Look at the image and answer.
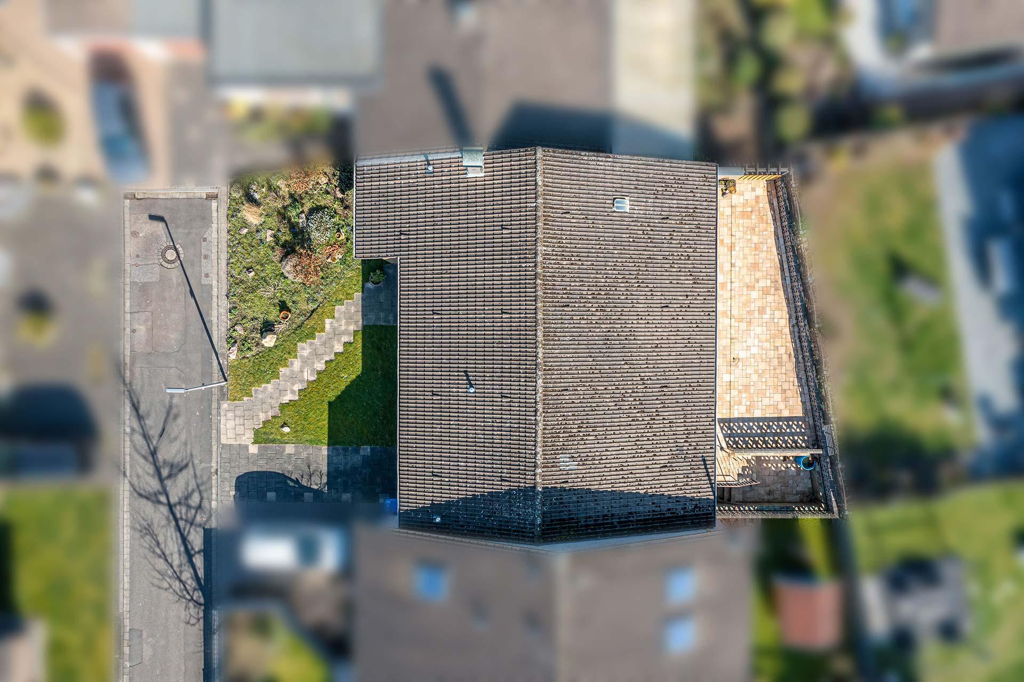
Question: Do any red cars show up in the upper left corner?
No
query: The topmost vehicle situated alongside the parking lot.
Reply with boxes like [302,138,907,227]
[89,76,153,183]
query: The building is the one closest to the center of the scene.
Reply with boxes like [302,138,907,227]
[354,148,726,543]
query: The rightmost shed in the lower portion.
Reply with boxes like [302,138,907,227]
[765,570,840,647]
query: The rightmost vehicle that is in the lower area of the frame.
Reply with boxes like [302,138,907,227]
[240,525,349,576]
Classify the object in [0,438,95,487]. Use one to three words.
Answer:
car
